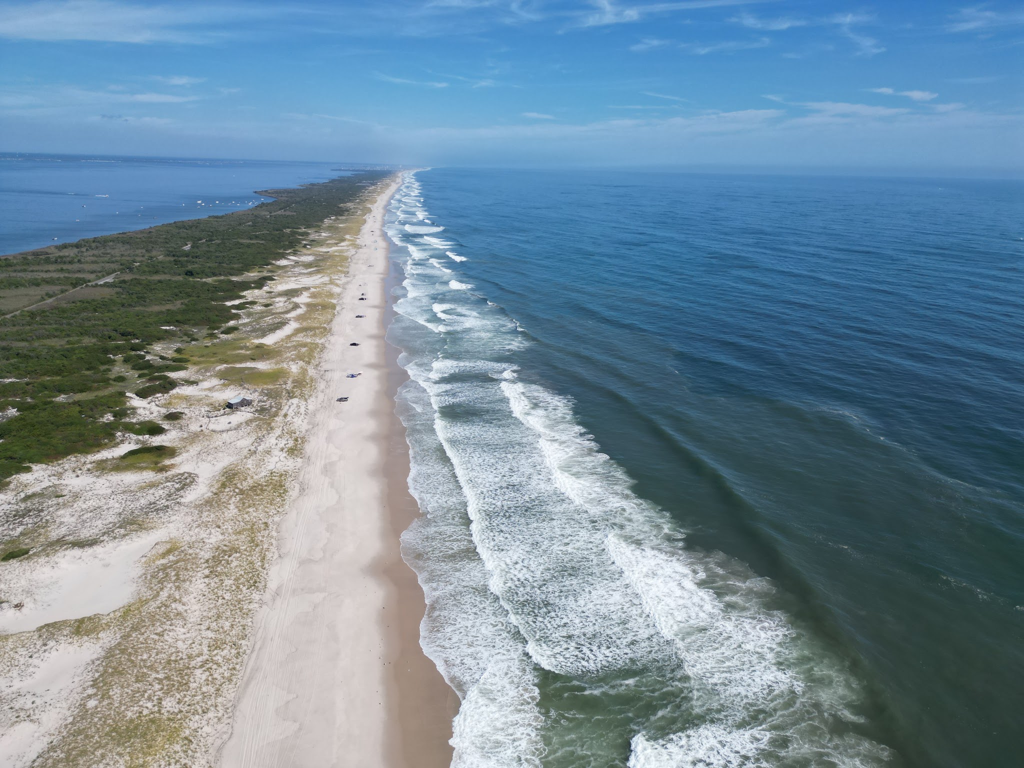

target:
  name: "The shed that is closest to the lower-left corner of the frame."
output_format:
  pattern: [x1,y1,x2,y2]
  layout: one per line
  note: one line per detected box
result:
[225,389,252,407]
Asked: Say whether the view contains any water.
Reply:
Yes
